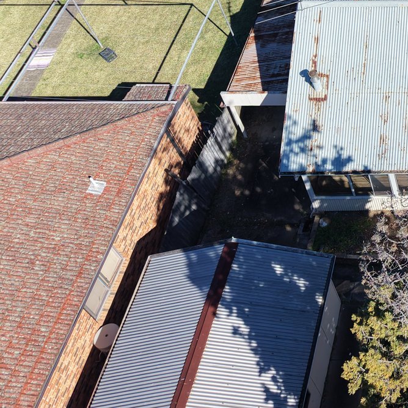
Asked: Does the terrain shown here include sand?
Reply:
No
